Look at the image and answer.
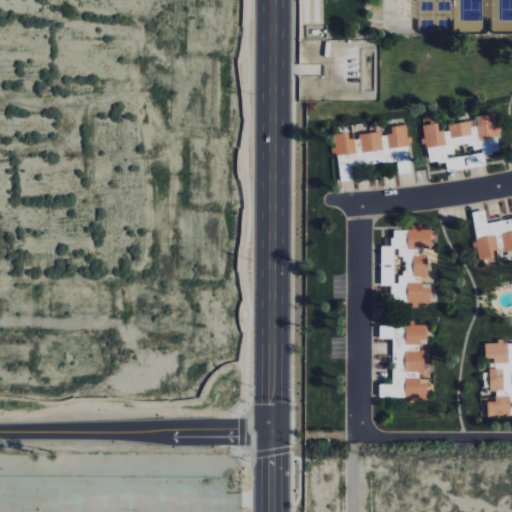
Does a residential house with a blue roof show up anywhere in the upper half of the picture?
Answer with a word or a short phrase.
No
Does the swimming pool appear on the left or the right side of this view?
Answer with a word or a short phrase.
right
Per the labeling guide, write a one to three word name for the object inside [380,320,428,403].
house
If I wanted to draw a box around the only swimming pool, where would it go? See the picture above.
[492,285,512,318]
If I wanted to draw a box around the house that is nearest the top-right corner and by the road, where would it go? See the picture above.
[422,115,502,172]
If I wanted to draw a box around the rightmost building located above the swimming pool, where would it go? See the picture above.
[473,210,512,262]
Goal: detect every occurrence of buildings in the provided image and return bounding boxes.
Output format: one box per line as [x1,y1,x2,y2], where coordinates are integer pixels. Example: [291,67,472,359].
[422,115,502,172]
[473,210,512,262]
[332,124,413,182]
[486,340,512,417]
[380,320,428,403]
[382,230,432,308]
